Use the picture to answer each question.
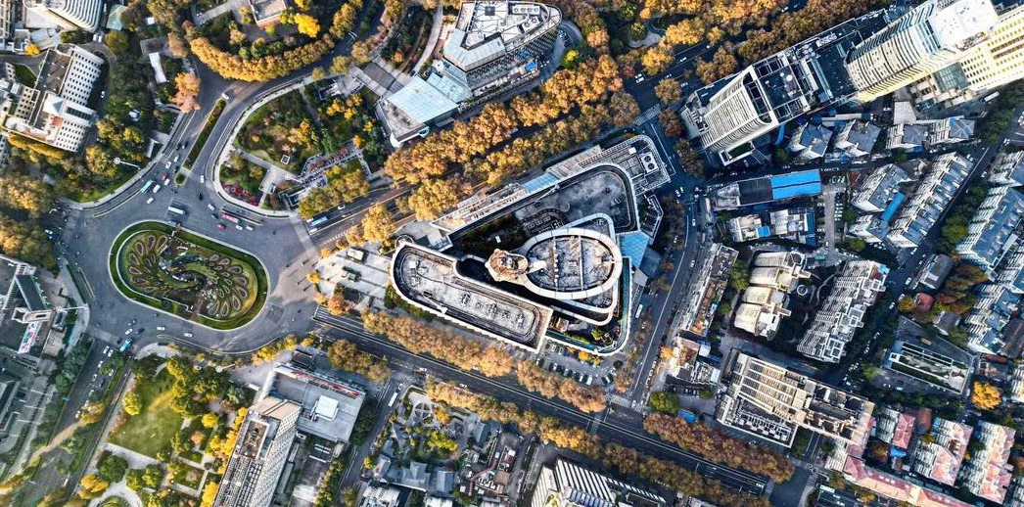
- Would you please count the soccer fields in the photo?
zero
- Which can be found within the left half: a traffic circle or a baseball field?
traffic circle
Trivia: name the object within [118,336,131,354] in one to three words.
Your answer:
vehicle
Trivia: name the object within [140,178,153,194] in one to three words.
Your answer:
vehicle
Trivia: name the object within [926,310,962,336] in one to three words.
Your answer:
house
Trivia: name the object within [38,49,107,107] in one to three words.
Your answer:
building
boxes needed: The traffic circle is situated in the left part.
[108,220,270,330]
